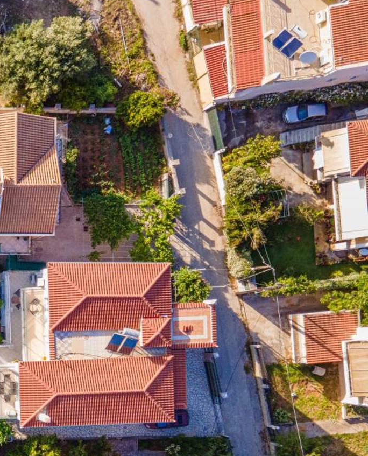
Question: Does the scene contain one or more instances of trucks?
No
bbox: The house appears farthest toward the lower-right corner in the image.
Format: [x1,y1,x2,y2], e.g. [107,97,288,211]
[285,309,368,406]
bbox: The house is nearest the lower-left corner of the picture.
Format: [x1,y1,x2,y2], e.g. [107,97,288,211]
[0,261,219,429]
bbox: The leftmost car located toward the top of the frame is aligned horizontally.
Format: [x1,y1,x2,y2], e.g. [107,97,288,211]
[280,102,327,126]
